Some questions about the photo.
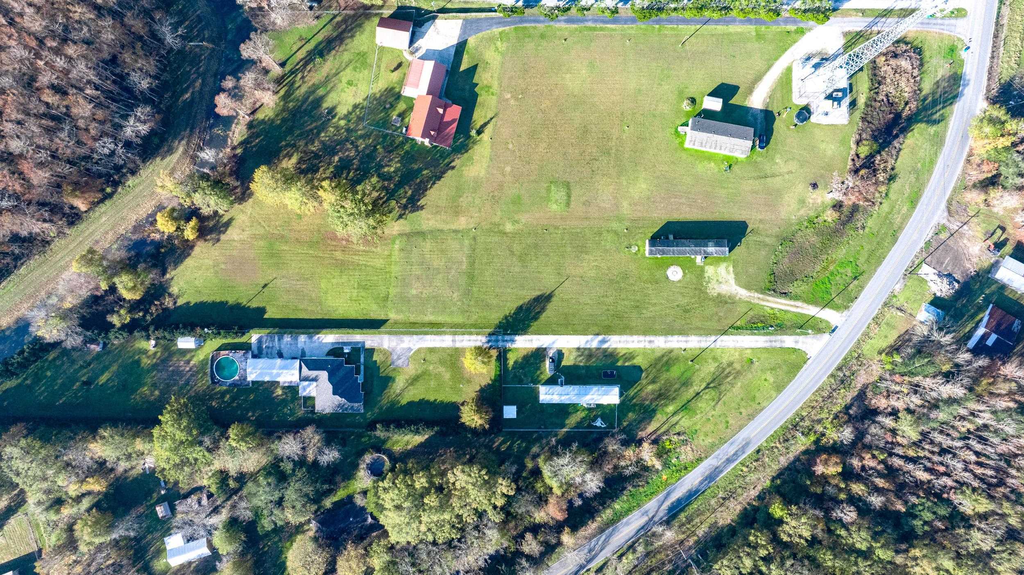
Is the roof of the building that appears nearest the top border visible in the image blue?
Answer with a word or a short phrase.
No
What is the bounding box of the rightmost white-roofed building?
[988,256,1024,297]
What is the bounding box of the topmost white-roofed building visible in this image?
[376,17,413,52]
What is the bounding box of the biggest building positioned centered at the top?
[402,58,462,148]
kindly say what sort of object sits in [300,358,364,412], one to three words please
house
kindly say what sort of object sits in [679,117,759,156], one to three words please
house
